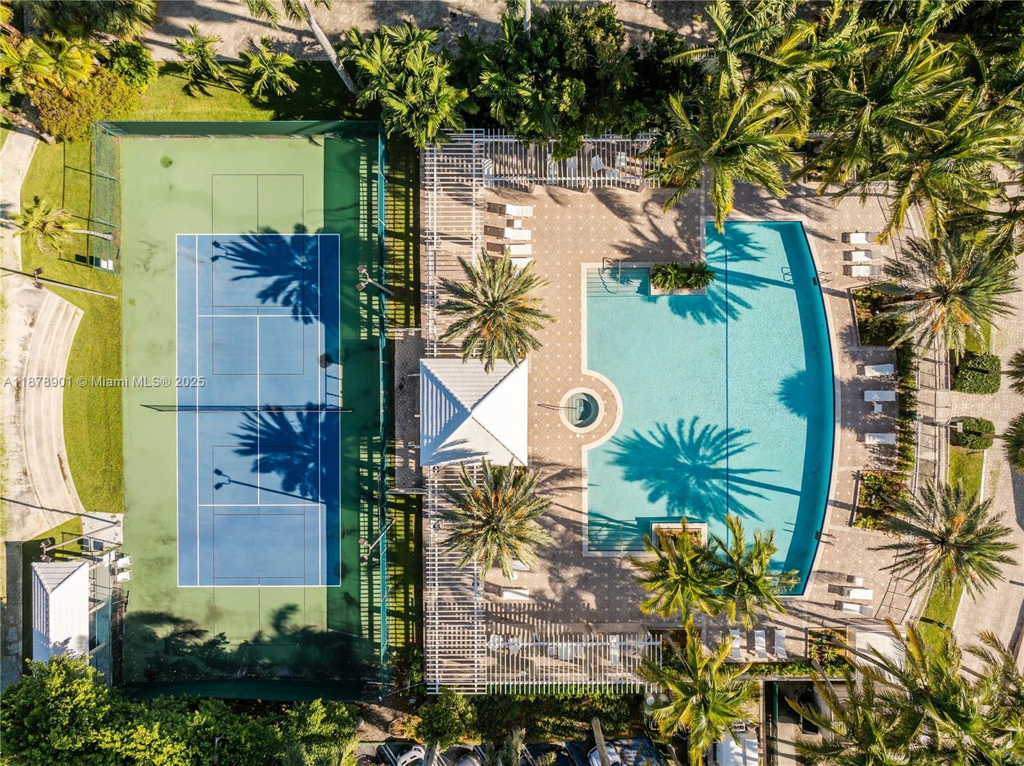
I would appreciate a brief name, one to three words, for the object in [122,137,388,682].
tennis court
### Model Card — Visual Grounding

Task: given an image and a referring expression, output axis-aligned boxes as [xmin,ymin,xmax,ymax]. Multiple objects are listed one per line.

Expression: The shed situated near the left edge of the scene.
[30,556,111,666]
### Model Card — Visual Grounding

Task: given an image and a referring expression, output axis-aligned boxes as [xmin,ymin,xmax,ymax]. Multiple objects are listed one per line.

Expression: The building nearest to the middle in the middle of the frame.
[419,357,529,467]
